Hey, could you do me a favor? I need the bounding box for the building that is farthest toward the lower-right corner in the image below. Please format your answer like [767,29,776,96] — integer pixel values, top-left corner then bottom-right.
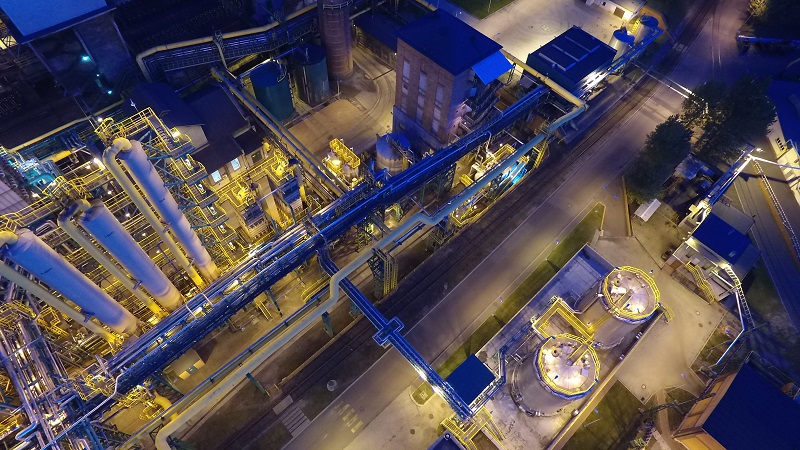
[674,352,800,450]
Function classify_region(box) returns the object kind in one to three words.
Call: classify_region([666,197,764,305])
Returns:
building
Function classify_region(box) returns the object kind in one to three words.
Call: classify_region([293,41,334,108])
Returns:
silo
